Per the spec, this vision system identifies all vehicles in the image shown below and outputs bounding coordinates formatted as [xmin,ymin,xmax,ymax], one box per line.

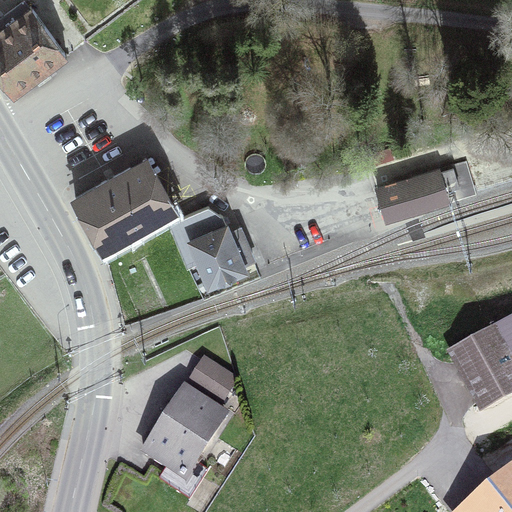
[210,196,229,213]
[92,135,114,152]
[0,230,11,244]
[64,263,77,286]
[8,256,28,273]
[62,134,84,152]
[68,149,91,166]
[55,126,78,144]
[16,268,38,288]
[78,112,98,129]
[309,224,324,245]
[45,117,65,134]
[74,296,86,318]
[295,228,309,250]
[102,146,124,162]
[0,244,21,261]
[86,121,109,139]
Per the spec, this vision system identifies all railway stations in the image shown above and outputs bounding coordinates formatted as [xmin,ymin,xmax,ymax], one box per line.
[376,168,459,225]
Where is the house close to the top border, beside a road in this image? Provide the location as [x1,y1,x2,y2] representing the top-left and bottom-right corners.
[0,2,68,112]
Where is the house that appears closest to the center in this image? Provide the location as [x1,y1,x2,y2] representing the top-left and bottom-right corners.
[172,209,254,293]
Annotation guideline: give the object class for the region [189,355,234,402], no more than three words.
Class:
building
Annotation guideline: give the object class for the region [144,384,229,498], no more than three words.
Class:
house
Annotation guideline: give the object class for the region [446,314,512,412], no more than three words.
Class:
barn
